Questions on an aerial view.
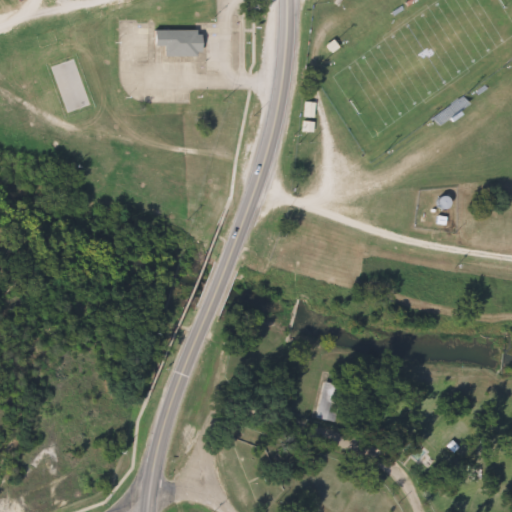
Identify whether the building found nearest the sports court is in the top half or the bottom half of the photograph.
top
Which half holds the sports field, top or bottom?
top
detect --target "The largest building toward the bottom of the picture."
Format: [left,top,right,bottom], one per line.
[314,381,338,422]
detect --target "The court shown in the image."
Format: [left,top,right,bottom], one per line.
[52,60,90,112]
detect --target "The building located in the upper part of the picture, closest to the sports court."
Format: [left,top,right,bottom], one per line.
[157,30,205,56]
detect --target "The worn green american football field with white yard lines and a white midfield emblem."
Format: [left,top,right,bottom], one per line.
[326,0,512,146]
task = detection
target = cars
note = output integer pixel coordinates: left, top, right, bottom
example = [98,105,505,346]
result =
[256,164,262,174]
[232,229,238,238]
